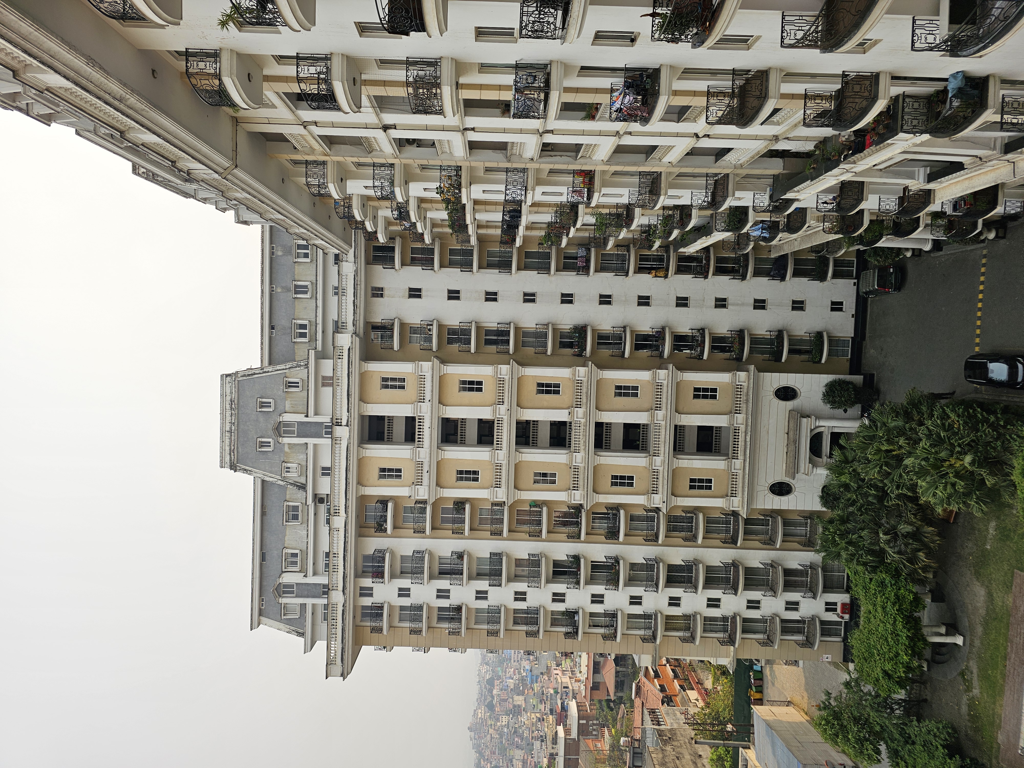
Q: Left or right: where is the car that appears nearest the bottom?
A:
right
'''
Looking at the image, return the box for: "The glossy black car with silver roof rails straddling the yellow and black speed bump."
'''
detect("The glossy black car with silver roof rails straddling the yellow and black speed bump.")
[964,352,1024,392]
